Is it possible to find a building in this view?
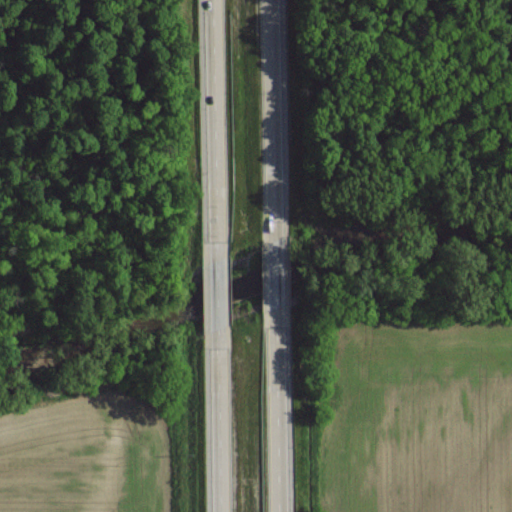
No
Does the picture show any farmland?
Yes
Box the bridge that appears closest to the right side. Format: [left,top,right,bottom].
[262,243,292,328]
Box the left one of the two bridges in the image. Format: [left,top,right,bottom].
[202,242,232,348]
